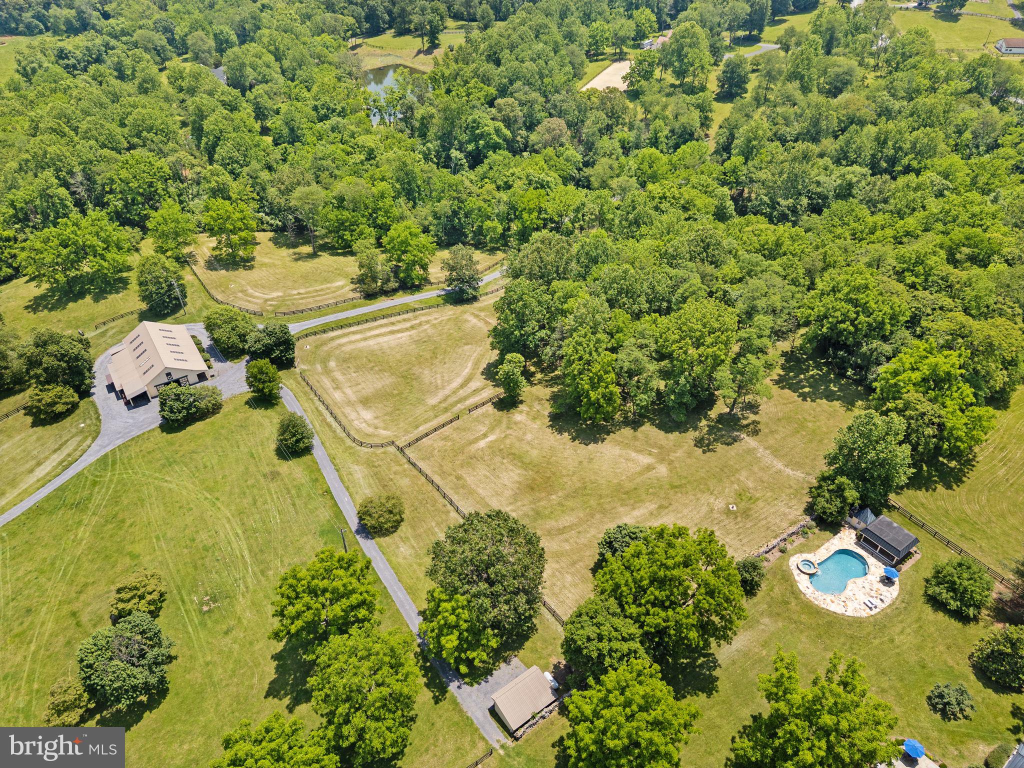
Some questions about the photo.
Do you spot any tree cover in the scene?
Yes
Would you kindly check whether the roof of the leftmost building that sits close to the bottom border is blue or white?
white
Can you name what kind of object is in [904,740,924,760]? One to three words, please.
umbrella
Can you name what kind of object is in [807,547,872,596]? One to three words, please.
swimming pool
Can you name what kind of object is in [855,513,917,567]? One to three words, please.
building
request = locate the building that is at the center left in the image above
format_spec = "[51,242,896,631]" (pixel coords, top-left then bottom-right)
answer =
[108,320,210,409]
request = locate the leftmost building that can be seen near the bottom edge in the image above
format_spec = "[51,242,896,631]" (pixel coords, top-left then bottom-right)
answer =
[492,665,558,730]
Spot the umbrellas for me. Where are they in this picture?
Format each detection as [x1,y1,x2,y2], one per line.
[883,566,899,580]
[904,740,924,760]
